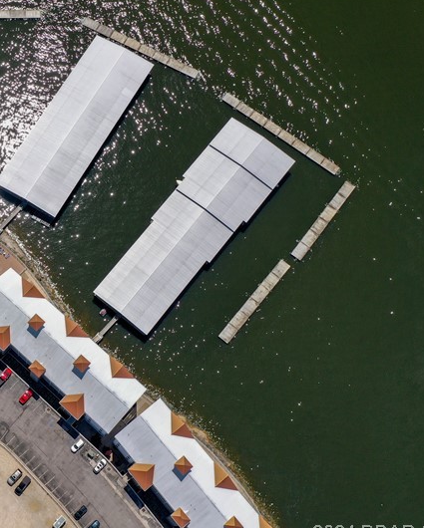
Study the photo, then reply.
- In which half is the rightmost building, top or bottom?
bottom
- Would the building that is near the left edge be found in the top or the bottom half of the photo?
bottom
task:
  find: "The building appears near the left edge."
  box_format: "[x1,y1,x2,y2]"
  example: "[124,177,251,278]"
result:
[0,269,146,435]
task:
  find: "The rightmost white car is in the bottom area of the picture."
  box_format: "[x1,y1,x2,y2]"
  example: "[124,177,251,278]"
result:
[93,459,106,474]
